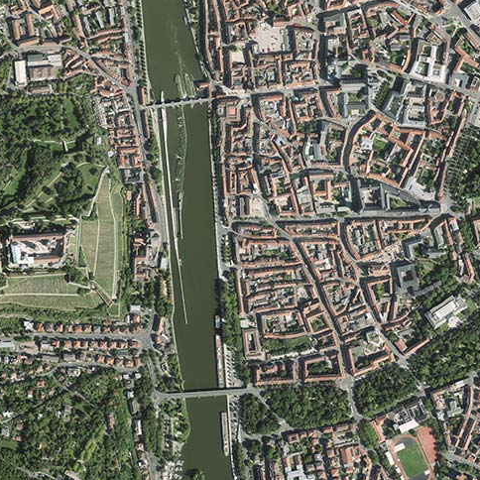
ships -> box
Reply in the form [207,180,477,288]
[215,334,224,387]
[221,413,227,457]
